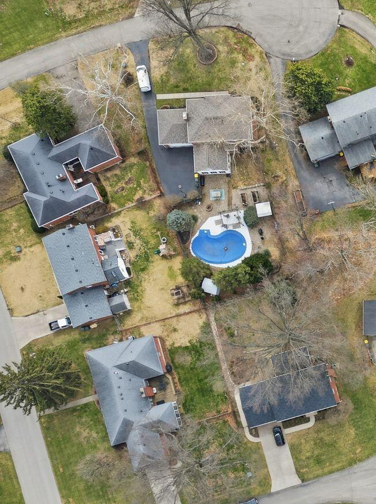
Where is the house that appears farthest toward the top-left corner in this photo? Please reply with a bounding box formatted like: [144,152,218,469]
[8,124,119,228]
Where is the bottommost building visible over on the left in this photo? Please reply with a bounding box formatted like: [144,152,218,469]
[85,336,190,472]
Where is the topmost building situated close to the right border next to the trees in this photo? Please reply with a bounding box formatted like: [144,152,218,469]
[296,86,376,170]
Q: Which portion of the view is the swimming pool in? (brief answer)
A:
center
